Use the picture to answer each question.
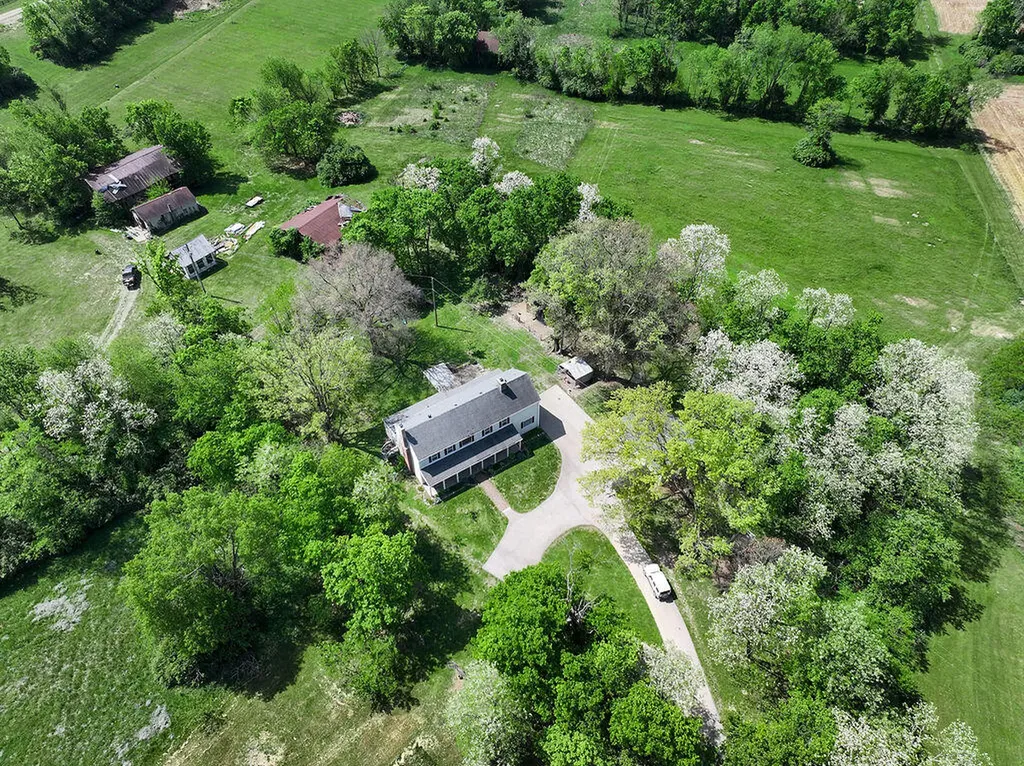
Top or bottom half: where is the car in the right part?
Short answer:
bottom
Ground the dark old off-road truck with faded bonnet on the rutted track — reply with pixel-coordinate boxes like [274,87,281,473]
[119,261,138,285]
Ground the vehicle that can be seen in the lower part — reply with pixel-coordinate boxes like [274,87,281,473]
[641,563,677,602]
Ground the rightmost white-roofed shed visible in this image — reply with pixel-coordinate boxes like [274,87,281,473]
[557,356,594,392]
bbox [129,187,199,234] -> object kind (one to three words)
barn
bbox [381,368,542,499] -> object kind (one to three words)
house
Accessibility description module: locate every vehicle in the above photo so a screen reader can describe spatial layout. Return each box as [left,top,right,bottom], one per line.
[641,563,677,602]
[119,261,138,285]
